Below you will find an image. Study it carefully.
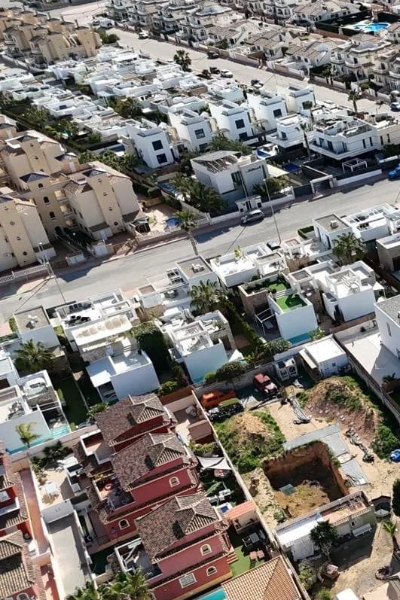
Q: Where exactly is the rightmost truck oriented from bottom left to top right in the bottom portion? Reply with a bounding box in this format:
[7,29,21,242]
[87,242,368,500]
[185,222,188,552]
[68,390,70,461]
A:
[273,358,302,380]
